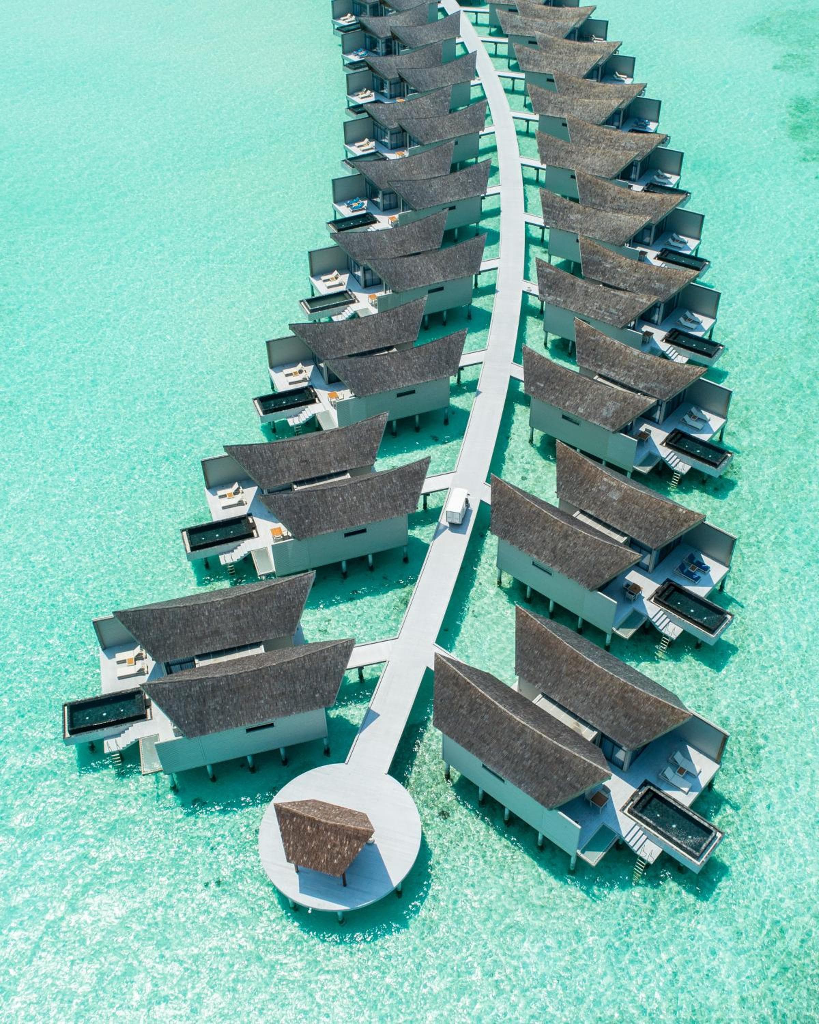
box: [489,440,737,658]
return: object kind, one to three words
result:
house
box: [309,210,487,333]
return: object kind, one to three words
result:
house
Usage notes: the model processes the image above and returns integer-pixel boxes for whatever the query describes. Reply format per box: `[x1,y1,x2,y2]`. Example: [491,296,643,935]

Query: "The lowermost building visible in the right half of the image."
[431,605,730,883]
